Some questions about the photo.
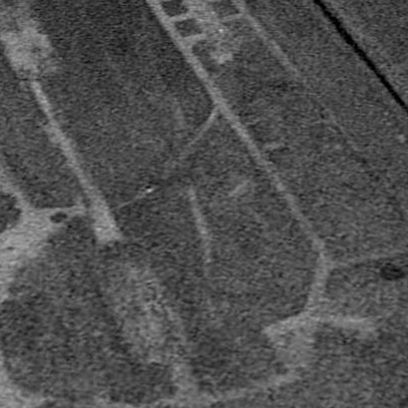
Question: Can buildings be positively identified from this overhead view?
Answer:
No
